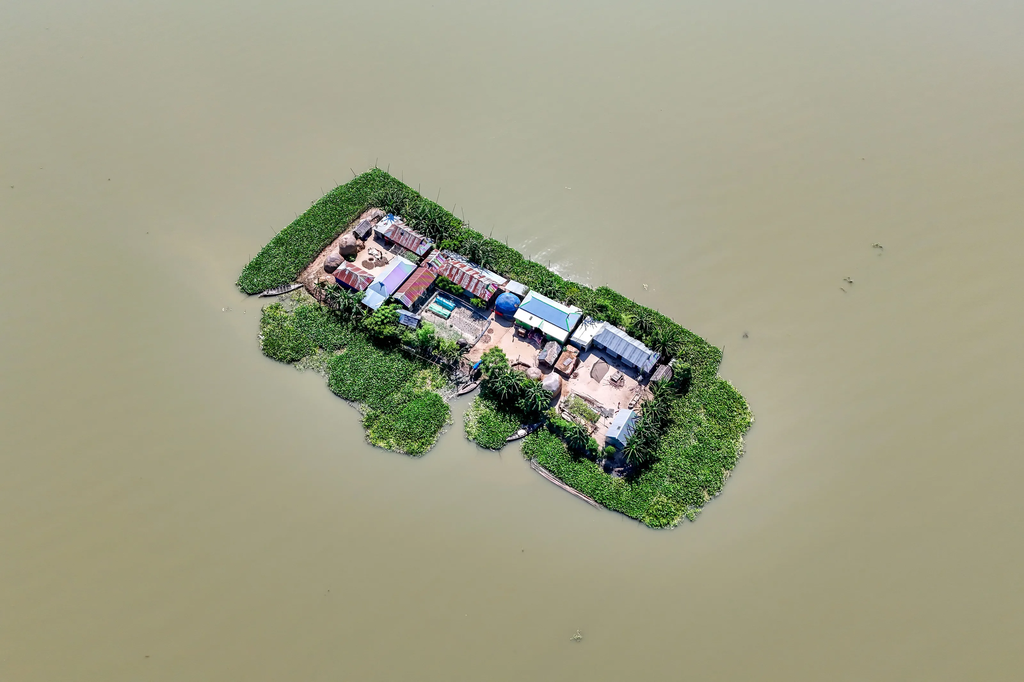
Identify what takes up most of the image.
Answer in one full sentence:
Most of the picture is covered by water.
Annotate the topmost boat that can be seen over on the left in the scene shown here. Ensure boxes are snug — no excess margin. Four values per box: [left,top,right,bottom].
[258,283,302,298]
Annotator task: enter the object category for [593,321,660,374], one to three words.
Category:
house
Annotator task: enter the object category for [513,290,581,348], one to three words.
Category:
building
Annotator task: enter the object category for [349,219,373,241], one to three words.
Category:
shed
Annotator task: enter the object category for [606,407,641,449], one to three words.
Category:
house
